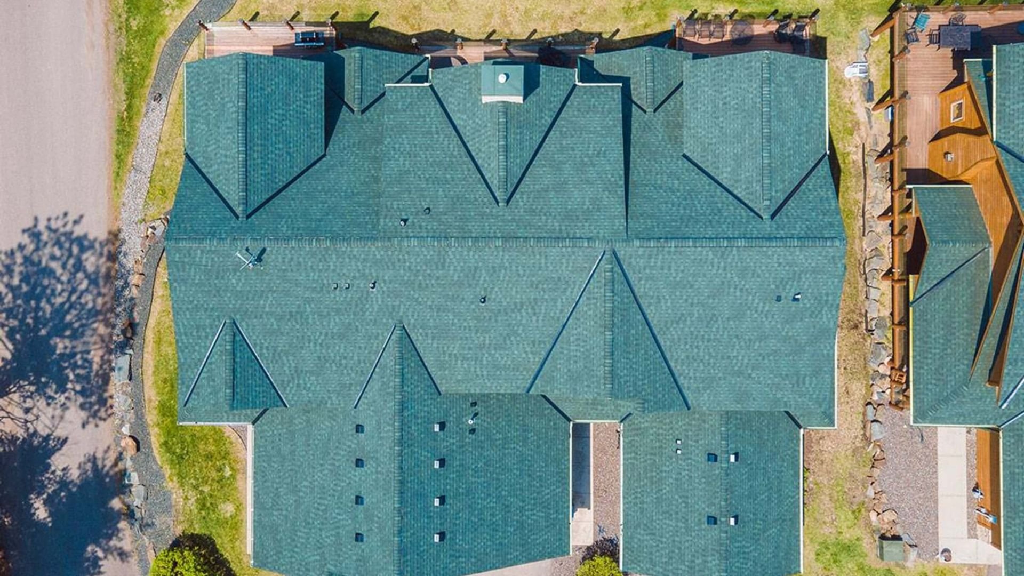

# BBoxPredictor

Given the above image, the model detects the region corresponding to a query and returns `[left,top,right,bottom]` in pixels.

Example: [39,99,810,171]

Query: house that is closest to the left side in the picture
[166,47,845,576]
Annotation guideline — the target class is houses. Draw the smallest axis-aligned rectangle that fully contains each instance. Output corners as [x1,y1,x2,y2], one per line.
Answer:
[166,47,845,576]
[890,34,1024,576]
